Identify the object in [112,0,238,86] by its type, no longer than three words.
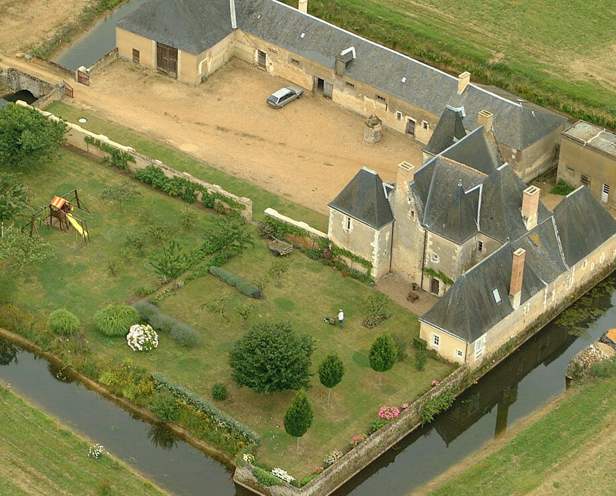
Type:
barn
